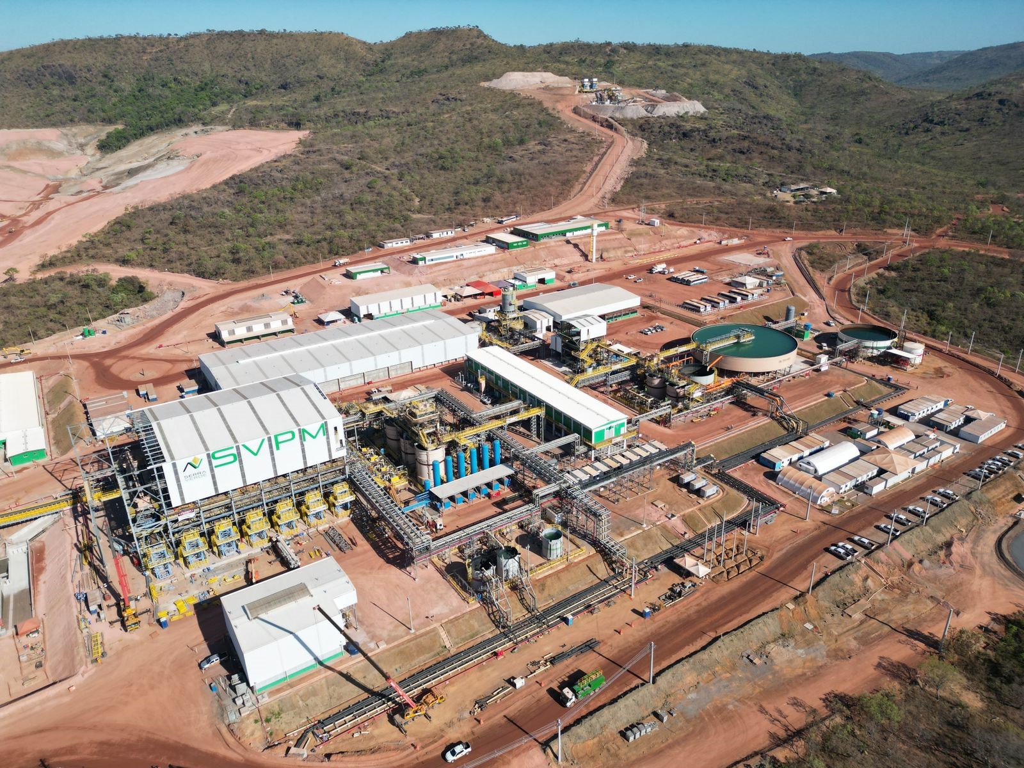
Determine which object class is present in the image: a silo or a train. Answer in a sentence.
I can see a silo in this picture.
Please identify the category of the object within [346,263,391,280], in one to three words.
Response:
shed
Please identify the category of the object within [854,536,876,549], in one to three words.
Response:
vehicle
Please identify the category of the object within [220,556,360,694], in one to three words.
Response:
building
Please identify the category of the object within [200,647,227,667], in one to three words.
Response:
vehicle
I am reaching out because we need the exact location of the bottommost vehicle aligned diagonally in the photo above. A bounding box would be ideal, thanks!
[445,741,471,767]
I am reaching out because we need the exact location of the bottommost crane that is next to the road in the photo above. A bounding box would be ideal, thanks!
[327,610,448,727]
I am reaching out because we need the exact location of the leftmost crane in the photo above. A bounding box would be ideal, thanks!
[92,480,155,642]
